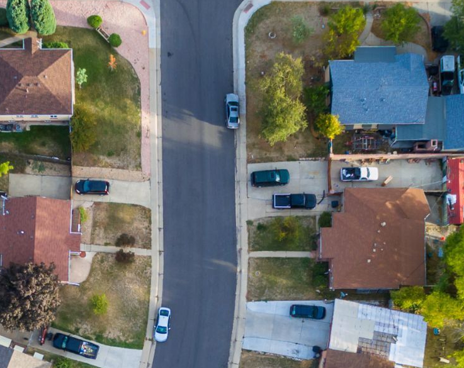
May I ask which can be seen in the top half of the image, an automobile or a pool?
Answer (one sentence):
It is an automobile that can be seen in the top half of the image.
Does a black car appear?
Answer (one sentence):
Yes, there's a black car down there.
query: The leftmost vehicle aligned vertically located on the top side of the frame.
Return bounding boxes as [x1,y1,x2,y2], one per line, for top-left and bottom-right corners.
[224,93,241,130]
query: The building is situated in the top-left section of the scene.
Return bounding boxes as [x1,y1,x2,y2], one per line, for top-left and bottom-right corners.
[0,28,72,121]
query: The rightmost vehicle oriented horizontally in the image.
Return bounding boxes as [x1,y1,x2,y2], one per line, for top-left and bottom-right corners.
[339,164,378,182]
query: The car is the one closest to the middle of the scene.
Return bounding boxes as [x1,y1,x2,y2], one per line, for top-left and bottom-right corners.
[250,167,290,186]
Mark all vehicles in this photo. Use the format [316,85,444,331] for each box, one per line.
[339,164,378,182]
[289,303,326,321]
[224,93,241,130]
[430,24,446,53]
[272,191,316,209]
[74,177,110,195]
[153,307,170,342]
[250,167,290,186]
[438,50,458,92]
[51,333,100,359]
